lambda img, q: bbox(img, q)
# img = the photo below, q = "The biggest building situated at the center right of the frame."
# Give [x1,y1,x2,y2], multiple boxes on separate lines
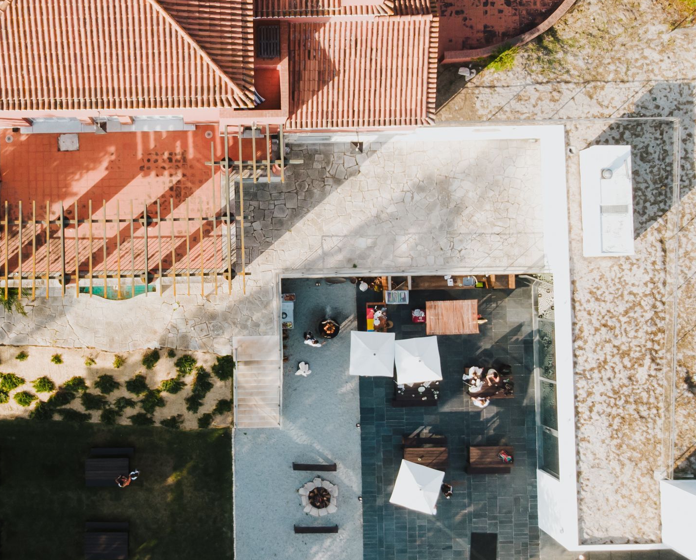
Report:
[419,125,666,551]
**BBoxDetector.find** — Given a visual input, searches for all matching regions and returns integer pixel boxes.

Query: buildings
[0,0,449,144]
[419,125,666,551]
